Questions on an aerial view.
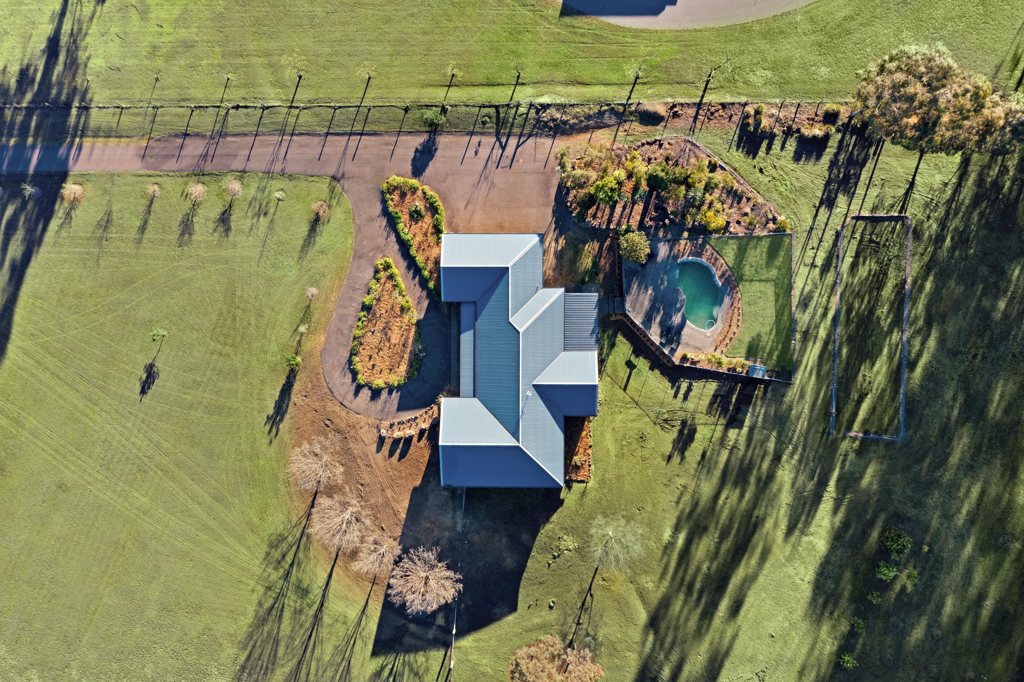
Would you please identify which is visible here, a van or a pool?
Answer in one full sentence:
I can see a pool in this picture.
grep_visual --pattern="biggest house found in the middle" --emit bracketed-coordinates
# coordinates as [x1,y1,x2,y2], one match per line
[437,231,602,488]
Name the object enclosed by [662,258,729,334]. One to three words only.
swimming pool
